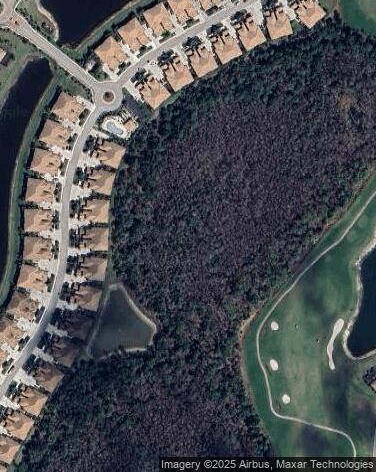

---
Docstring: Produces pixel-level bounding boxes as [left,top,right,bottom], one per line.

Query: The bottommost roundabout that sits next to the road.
[95,82,123,110]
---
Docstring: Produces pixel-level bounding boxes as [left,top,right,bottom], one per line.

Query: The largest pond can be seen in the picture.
[91,282,153,355]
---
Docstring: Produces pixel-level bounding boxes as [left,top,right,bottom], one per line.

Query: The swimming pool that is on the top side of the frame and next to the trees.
[101,115,130,140]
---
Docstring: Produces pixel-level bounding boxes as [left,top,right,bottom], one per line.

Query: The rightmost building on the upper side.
[285,0,325,29]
